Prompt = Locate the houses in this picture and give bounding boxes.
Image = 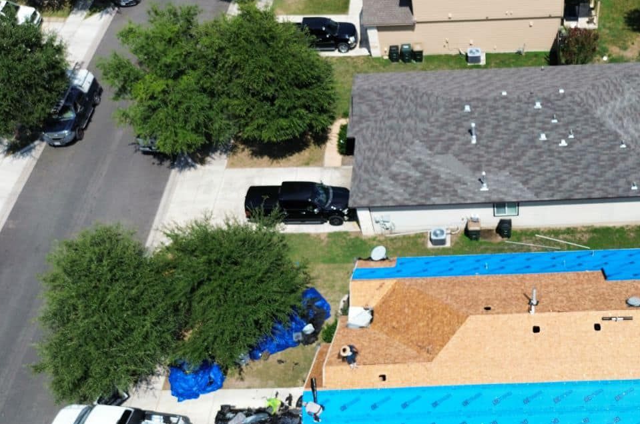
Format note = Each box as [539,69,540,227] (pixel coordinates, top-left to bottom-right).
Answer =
[300,248,640,424]
[363,0,604,61]
[347,59,640,239]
